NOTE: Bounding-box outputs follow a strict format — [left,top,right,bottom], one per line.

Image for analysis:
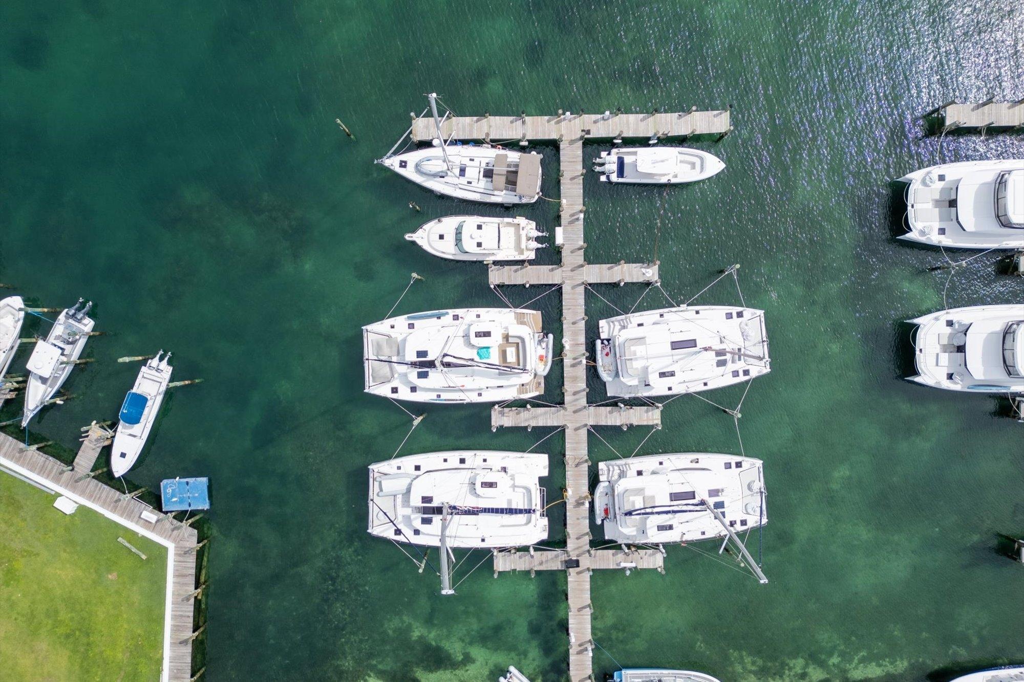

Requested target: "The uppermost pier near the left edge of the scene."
[0,375,30,416]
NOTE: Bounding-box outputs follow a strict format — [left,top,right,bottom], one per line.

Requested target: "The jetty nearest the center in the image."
[410,104,733,682]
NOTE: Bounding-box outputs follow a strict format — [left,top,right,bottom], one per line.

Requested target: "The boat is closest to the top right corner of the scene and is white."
[889,158,1024,249]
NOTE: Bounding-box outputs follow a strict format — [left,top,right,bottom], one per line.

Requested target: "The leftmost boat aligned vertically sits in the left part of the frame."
[0,297,33,377]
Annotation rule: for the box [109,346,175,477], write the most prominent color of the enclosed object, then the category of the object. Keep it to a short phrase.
white boat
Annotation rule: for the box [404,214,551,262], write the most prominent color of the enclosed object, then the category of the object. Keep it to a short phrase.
white boat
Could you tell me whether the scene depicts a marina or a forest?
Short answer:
marina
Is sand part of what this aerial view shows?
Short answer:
No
